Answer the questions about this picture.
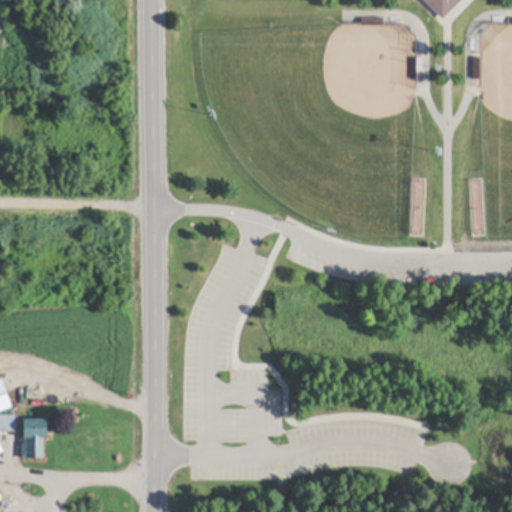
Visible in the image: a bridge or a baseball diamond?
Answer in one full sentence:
Looking from above, you can make out a baseball diamond.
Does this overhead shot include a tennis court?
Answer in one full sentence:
No, the picture doesn't show any tennis court.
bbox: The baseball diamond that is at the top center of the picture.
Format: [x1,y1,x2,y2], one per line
[200,24,416,245]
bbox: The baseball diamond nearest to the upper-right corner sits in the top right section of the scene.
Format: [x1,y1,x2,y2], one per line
[482,24,512,240]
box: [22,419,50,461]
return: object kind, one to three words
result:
house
